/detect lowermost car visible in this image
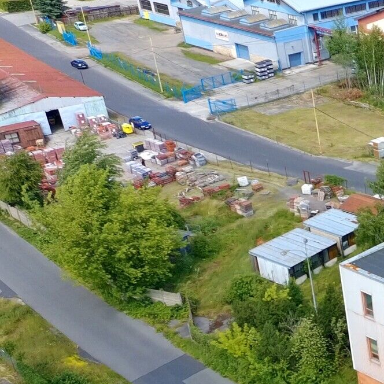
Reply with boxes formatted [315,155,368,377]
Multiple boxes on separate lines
[126,111,153,129]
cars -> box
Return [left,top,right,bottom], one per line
[72,17,90,29]
[126,111,153,129]
[67,55,89,69]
